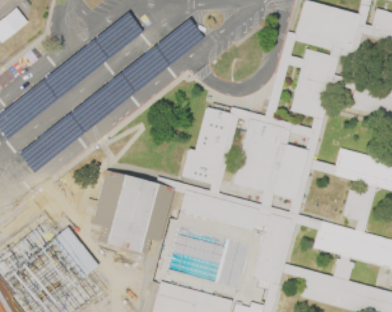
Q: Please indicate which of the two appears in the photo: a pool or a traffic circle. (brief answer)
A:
pool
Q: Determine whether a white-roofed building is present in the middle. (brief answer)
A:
Yes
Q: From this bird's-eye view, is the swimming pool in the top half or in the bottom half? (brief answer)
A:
bottom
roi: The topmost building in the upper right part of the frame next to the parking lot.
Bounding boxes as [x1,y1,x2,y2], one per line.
[296,0,360,54]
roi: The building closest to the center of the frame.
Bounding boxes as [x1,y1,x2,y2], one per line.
[184,106,241,188]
